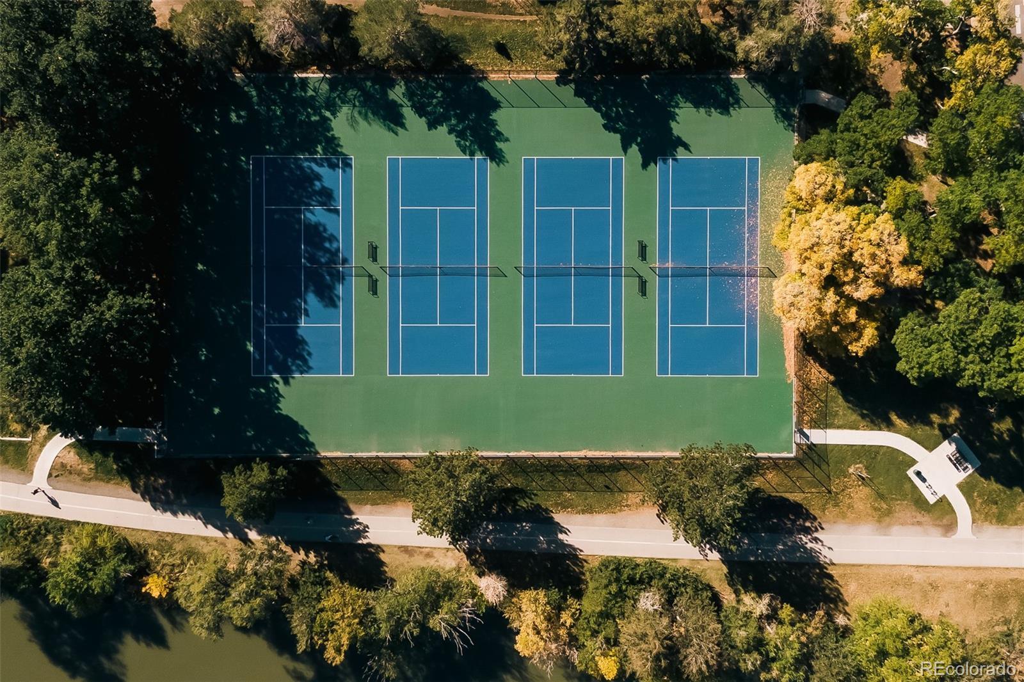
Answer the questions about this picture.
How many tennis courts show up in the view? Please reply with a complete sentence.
The count of tennis courts comes to 4.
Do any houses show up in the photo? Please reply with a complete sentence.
No, there isn't any house down there.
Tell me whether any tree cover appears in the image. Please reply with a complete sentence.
Yes, there's tree cover in this view.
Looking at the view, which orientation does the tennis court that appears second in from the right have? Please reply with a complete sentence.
The tennis court that appears second in from the right has been laid out up and down relative to the frame.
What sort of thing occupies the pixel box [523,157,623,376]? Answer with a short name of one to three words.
tennis court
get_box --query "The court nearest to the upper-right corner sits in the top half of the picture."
[658,157,759,376]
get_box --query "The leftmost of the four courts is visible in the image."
[251,156,353,376]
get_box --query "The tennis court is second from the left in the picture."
[388,157,489,376]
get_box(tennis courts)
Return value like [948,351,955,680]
[658,157,759,376]
[388,157,489,376]
[523,157,623,376]
[251,156,353,376]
